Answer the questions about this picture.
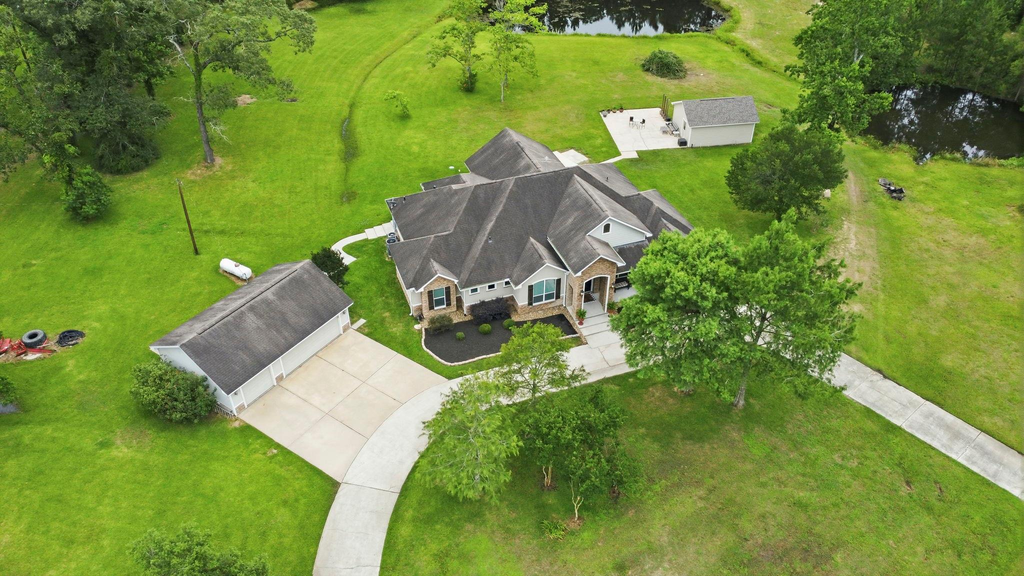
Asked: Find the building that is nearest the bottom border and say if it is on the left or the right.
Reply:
left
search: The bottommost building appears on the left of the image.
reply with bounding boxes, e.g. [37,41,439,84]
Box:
[149,259,355,417]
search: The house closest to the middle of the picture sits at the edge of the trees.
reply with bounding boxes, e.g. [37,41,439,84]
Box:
[378,127,691,344]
